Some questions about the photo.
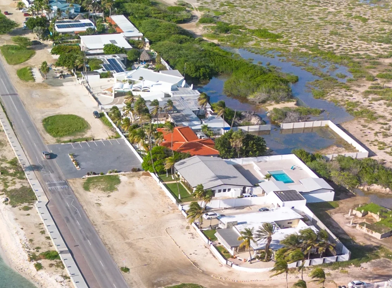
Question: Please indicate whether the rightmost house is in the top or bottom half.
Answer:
bottom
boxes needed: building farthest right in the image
[295,177,335,203]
